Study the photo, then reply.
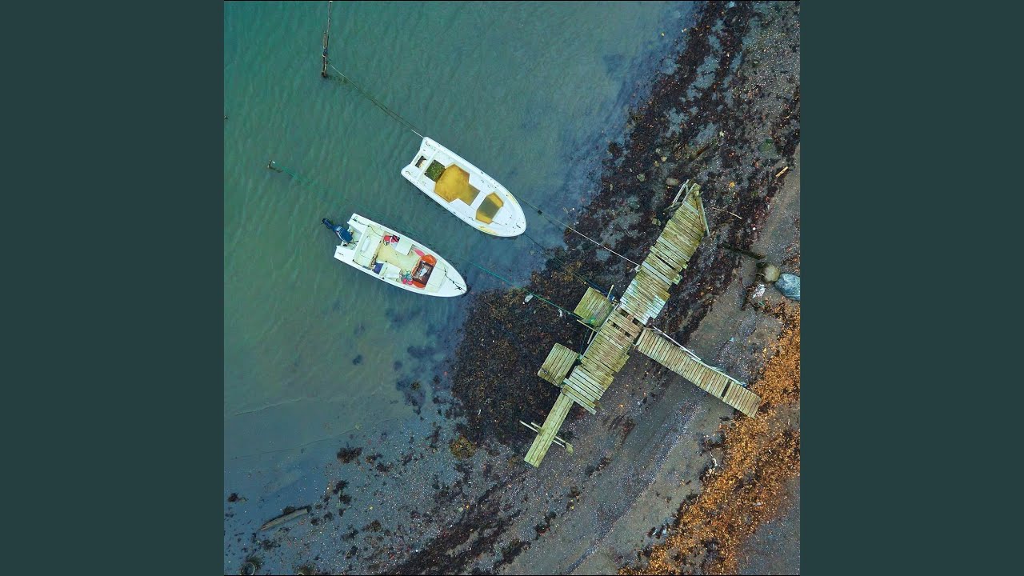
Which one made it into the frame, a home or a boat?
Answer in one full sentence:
Looking from above, you can make out a boat.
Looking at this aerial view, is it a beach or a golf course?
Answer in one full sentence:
The area seen from above is a beach.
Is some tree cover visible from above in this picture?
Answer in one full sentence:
No, there is no tree cover in the image.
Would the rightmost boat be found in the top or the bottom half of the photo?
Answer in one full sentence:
Seen from above, the rightmost boat lies in the top half of the view.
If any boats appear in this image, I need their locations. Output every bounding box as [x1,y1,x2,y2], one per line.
[323,214,467,296]
[404,139,528,234]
